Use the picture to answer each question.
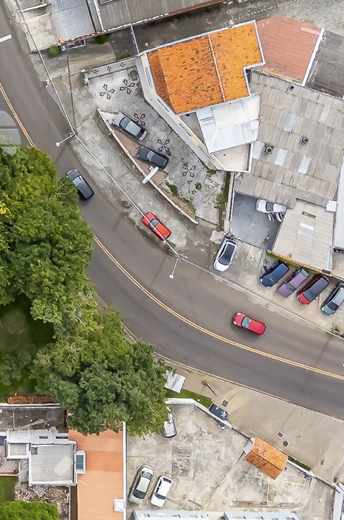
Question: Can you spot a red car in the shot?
Yes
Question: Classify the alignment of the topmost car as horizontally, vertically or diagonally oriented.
diagonally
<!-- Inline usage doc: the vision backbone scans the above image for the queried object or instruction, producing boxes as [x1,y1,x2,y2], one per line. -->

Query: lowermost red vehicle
[234,312,267,336]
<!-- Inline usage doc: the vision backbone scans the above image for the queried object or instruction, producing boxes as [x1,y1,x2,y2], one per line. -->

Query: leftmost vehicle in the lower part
[130,467,154,504]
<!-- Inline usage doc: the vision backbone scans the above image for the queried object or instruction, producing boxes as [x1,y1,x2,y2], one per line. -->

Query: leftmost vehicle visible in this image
[66,169,96,201]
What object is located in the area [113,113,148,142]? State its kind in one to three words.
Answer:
car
